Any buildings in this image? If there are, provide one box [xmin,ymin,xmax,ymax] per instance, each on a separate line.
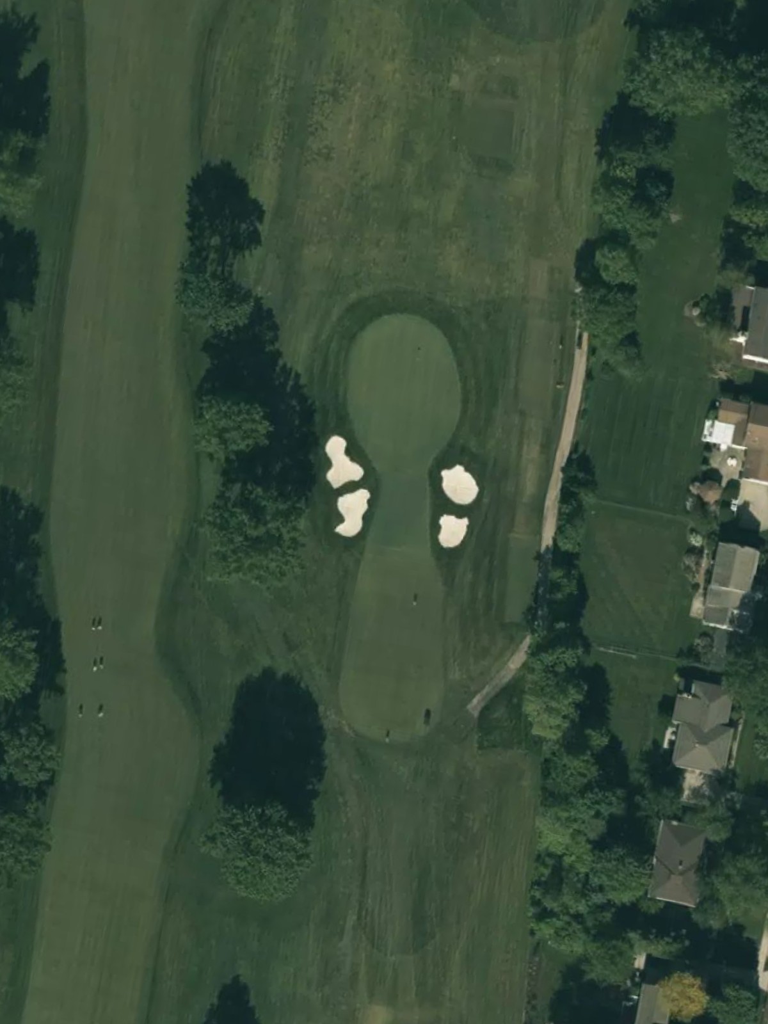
[670,679,736,776]
[702,398,768,488]
[727,288,768,366]
[634,981,668,1024]
[700,541,761,633]
[648,819,706,908]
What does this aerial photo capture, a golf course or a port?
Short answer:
golf course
